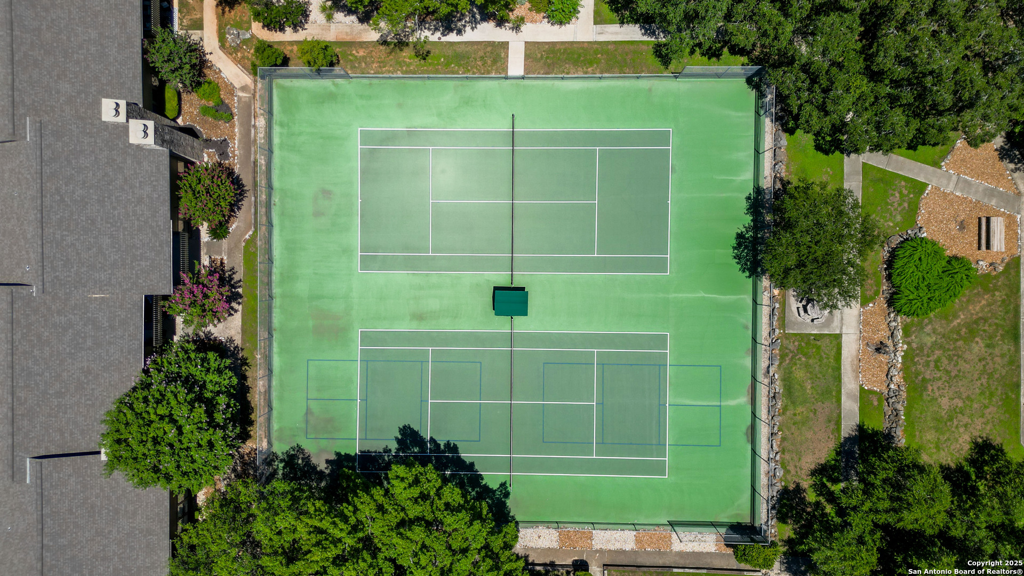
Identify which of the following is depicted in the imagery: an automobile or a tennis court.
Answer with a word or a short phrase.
tennis court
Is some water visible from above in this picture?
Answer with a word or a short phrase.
No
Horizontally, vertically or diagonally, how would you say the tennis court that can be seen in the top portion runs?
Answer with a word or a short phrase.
horizontally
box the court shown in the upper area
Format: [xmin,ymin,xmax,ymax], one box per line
[358,128,672,275]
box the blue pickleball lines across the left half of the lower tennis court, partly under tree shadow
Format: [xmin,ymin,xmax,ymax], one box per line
[306,360,481,442]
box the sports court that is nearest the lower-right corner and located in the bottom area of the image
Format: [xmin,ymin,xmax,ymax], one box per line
[543,363,722,446]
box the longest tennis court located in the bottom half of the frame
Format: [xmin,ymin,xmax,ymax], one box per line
[357,329,669,478]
